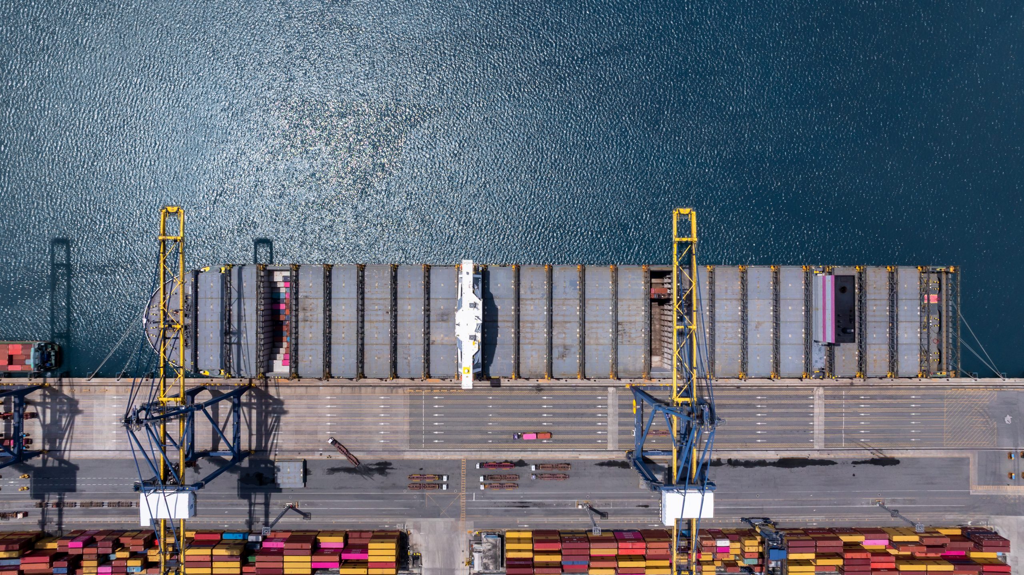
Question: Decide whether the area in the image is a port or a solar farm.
port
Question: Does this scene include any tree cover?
No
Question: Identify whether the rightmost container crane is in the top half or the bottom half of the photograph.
bottom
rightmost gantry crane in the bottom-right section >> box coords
[741,519,789,575]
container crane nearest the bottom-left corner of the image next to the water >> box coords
[0,383,54,473]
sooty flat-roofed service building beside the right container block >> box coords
[482,533,501,571]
